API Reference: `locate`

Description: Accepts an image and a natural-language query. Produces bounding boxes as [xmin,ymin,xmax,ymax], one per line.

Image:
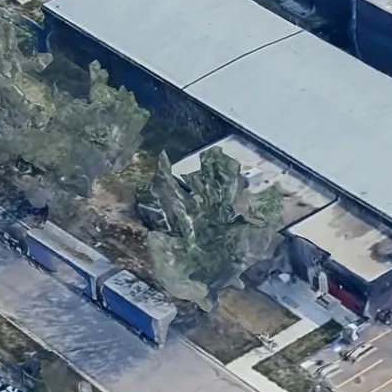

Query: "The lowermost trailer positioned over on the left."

[101,269,178,344]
